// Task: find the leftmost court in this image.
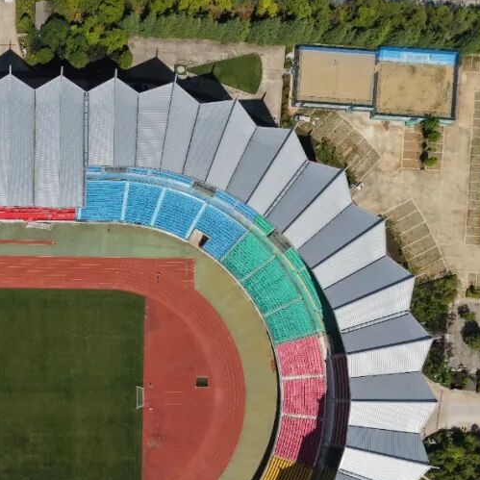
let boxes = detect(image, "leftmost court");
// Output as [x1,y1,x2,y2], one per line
[295,48,381,105]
